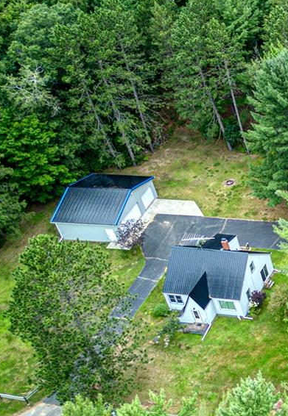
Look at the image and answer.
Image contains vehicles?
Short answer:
No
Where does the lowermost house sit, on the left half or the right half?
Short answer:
right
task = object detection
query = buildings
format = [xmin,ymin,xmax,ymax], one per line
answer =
[163,228,282,339]
[50,174,153,242]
